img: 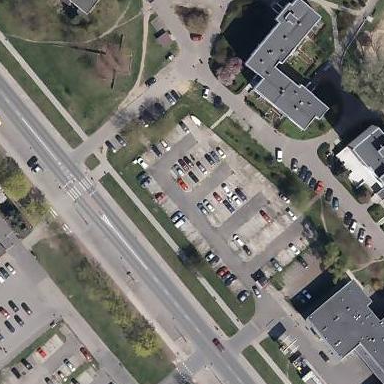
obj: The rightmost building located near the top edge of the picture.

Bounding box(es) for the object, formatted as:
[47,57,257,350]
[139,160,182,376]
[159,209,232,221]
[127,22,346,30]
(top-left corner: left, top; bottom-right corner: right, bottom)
[246,0,329,132]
